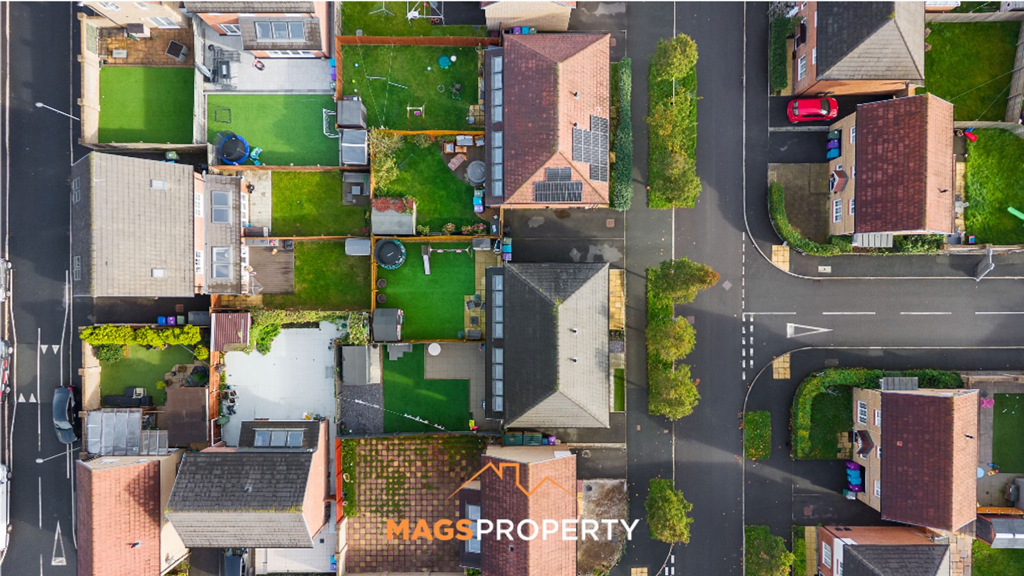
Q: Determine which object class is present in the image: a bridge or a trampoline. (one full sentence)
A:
Of the two, only a trampoline appears.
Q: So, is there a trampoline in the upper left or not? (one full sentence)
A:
Yes, you'll find a trampoline in the upper left.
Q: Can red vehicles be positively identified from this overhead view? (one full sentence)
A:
Yes, the image includes a red vehicle.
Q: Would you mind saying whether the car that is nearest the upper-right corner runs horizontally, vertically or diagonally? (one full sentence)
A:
In this picture, the car that is nearest the upper-right corner lies horizontally.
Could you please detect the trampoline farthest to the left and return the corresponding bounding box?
[211,127,252,165]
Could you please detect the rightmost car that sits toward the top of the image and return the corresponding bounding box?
[784,96,837,124]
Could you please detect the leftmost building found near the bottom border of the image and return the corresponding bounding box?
[75,447,189,576]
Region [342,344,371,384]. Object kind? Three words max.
shed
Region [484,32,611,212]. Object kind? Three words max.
house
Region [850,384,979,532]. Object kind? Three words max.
house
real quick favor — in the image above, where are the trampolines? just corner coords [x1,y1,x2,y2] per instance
[374,237,408,269]
[211,127,252,165]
